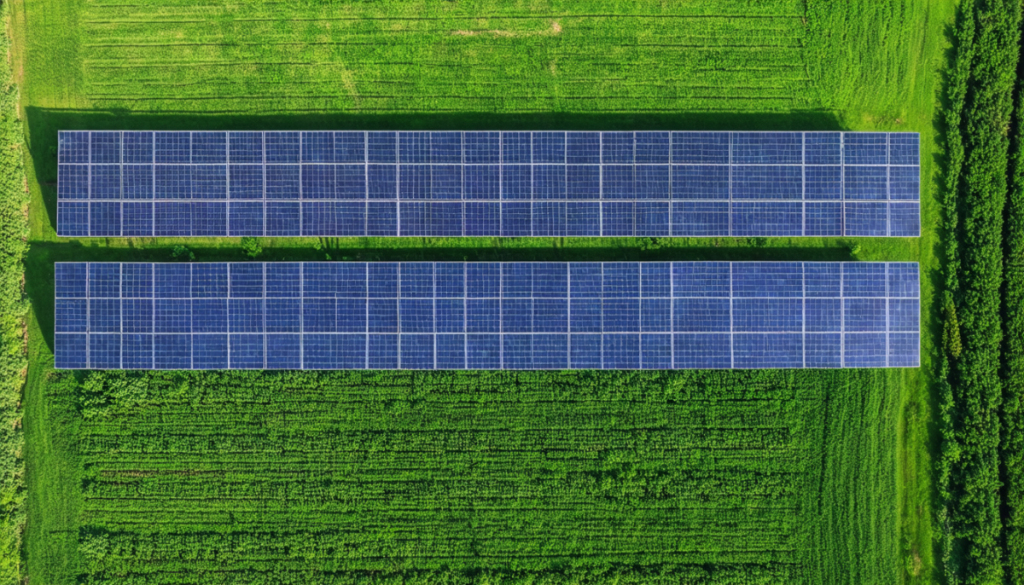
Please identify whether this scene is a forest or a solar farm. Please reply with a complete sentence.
The area seen from above is a solar farm.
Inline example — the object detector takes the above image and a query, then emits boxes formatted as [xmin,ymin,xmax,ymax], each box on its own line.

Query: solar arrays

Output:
[57,130,920,236]
[55,262,920,369]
